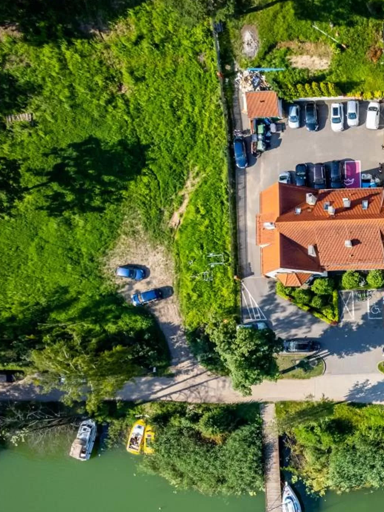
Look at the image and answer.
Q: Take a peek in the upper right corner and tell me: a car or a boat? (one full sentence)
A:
What appears in the upper right corner is a car.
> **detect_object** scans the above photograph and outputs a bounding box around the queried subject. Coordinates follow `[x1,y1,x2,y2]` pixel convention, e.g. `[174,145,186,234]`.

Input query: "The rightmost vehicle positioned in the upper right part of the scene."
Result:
[364,98,381,134]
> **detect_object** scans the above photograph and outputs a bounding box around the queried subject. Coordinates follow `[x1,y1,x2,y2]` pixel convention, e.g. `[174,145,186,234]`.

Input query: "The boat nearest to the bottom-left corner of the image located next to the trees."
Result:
[69,419,96,463]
